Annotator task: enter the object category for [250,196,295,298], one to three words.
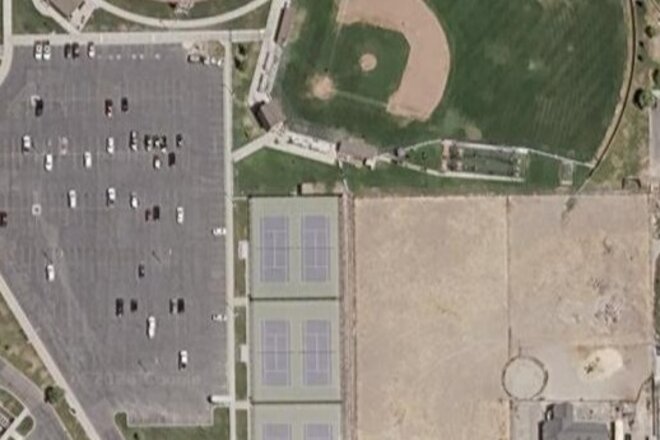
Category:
tennis court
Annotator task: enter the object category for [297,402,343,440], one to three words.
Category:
tennis court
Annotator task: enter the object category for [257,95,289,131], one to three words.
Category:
building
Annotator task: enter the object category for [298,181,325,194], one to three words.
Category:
shed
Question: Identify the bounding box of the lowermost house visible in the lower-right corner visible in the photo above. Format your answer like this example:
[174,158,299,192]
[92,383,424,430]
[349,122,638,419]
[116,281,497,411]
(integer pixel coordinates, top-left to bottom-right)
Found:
[541,401,610,440]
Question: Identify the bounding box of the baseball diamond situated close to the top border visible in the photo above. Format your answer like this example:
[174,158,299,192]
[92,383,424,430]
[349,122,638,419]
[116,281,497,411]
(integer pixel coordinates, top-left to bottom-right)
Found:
[272,0,635,167]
